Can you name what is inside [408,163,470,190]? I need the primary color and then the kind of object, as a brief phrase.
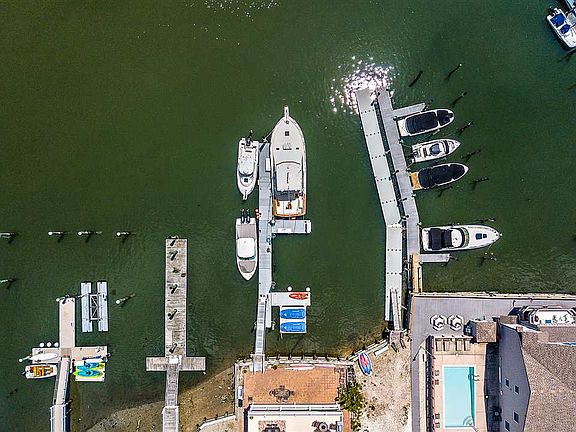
black boat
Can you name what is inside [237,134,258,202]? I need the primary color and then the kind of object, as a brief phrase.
white boat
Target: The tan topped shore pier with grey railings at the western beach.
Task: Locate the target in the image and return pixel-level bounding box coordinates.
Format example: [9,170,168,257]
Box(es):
[47,400,75,432]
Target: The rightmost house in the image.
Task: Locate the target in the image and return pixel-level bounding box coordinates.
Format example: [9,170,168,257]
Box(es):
[490,303,576,432]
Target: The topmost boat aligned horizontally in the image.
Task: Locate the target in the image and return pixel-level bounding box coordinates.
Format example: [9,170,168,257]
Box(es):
[394,111,454,137]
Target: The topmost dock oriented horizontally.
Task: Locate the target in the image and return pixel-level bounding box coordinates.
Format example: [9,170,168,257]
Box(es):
[272,292,310,305]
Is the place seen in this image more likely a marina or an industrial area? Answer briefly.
marina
